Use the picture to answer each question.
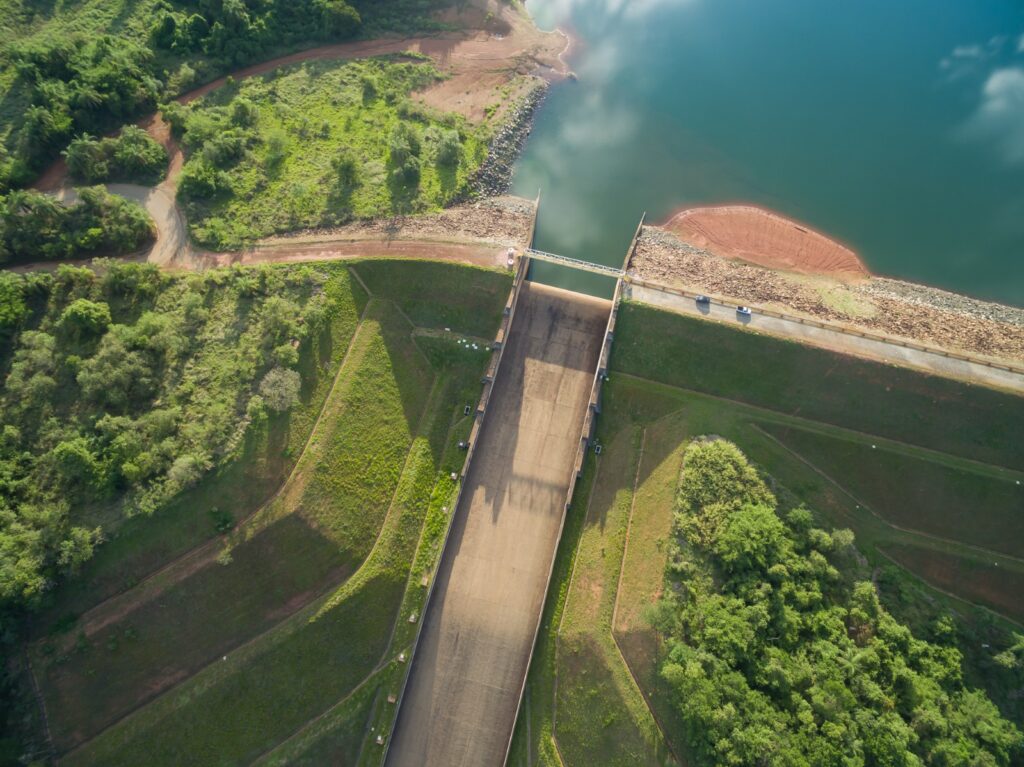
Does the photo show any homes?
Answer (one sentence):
No, this view has no home in it.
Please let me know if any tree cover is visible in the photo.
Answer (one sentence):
Yes, some tree cover is visible.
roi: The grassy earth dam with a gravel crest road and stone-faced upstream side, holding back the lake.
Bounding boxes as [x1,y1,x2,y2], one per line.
[265,197,1024,560]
